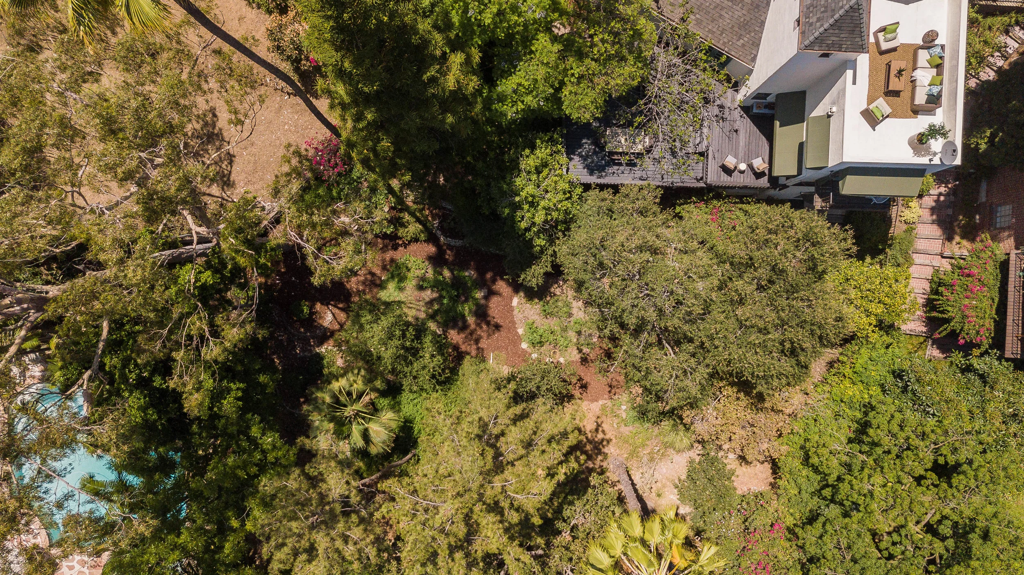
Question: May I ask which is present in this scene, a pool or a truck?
pool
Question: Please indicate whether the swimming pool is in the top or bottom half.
bottom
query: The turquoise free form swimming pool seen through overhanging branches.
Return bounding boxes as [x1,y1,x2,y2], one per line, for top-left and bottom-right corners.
[9,381,191,539]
